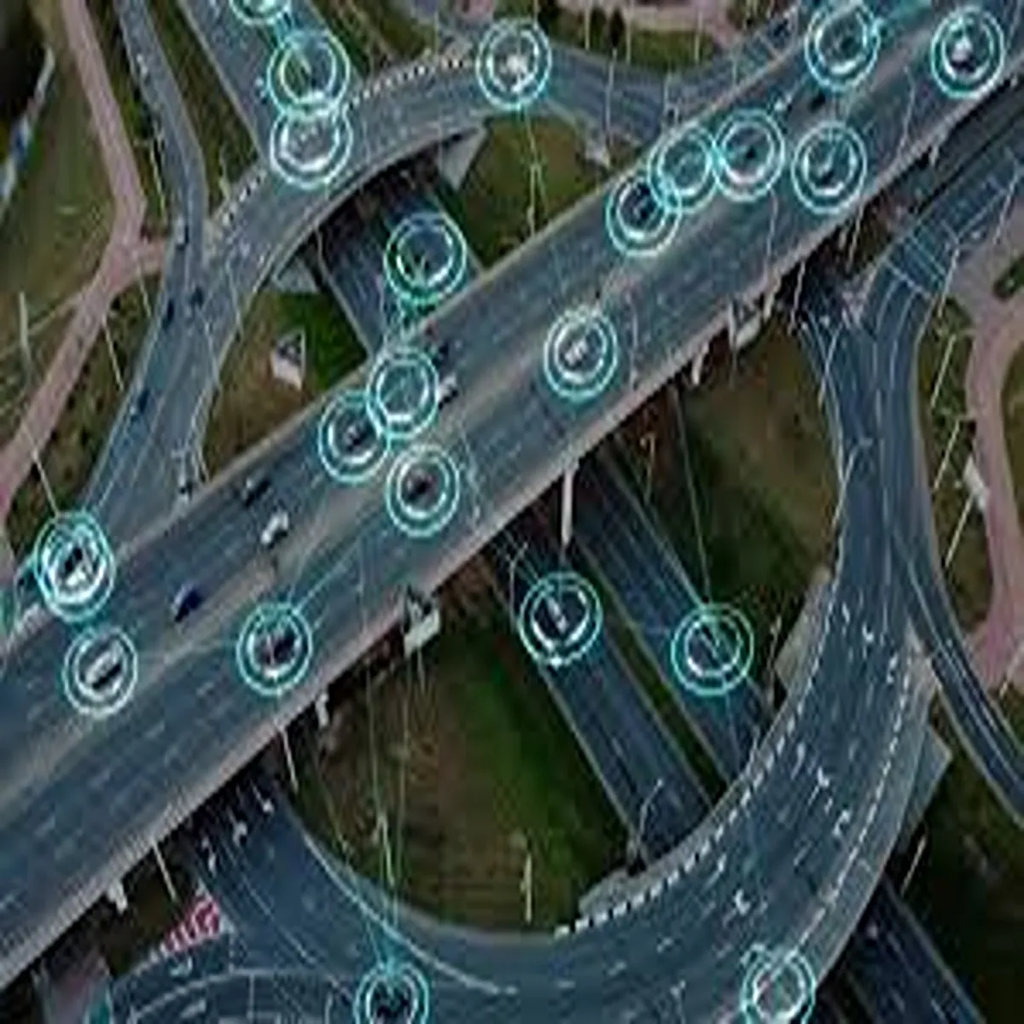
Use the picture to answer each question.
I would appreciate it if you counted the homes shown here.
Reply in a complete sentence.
There are no homes in this view.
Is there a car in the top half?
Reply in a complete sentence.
Yes, a car can be seen in the top half.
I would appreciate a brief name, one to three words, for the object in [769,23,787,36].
vehicle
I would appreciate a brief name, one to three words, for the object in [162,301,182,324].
car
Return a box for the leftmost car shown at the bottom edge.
[368,980,417,1016]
